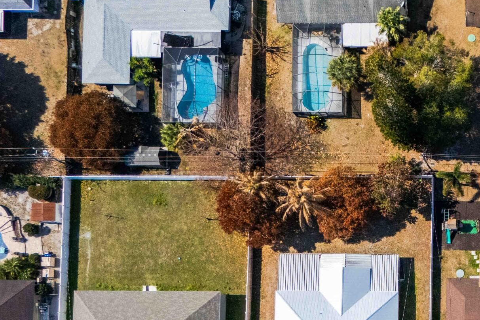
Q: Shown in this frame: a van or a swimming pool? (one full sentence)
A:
The one in the frame is a swimming pool.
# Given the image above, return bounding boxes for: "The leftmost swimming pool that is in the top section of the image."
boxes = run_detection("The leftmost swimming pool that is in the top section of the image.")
[176,53,218,119]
